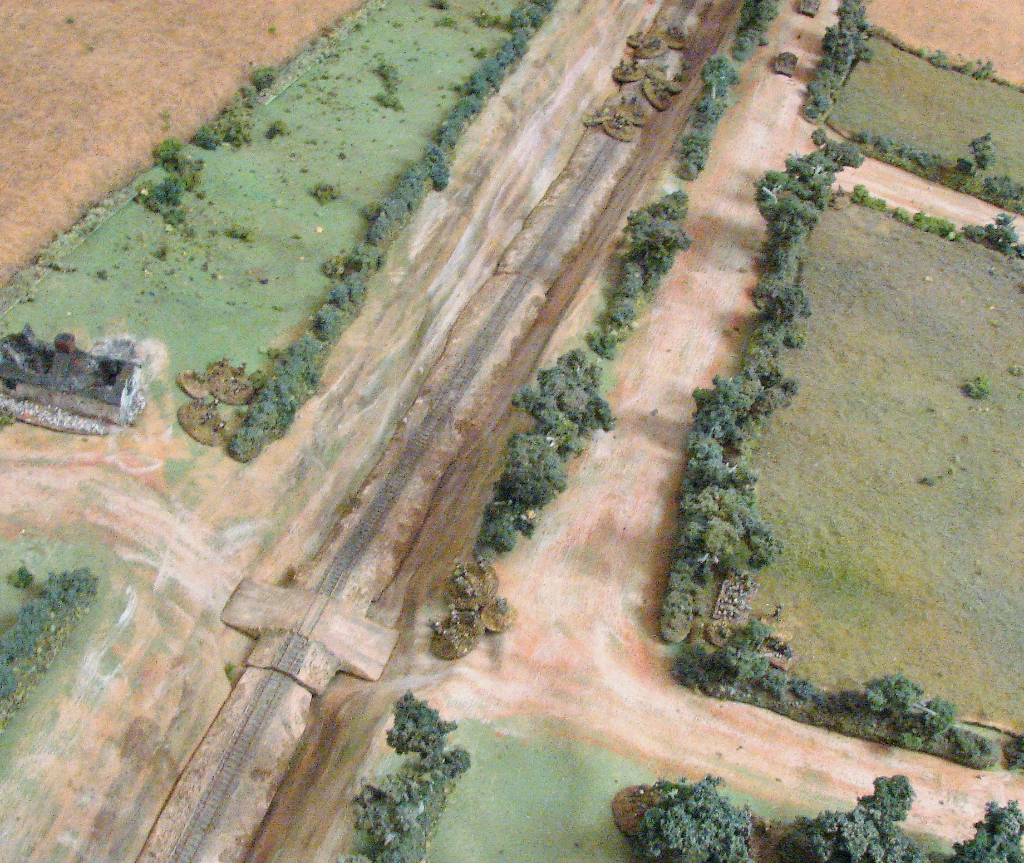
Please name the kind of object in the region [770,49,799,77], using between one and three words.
vehicle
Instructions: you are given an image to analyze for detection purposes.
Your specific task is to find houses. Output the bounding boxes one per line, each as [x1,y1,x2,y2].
[0,327,148,444]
